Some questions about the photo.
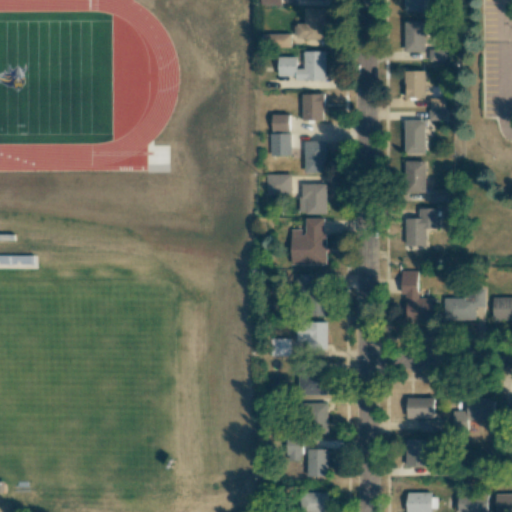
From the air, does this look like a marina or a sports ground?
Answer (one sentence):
The area seen from above is a sports ground.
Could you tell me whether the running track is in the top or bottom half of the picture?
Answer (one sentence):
It is in the top half that the running track appears.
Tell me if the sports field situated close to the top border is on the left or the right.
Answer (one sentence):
The sports field situated close to the top border is on the left side of the image.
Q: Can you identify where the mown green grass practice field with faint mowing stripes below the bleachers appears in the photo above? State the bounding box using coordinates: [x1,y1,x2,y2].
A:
[0,262,181,512]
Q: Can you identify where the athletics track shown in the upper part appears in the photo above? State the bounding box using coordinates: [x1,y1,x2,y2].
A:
[0,0,180,171]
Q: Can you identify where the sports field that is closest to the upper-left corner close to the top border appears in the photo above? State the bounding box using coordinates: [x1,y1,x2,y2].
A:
[0,12,113,143]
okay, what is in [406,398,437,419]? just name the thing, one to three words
house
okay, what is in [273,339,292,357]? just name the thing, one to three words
shed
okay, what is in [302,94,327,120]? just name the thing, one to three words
house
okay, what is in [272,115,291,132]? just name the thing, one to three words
building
